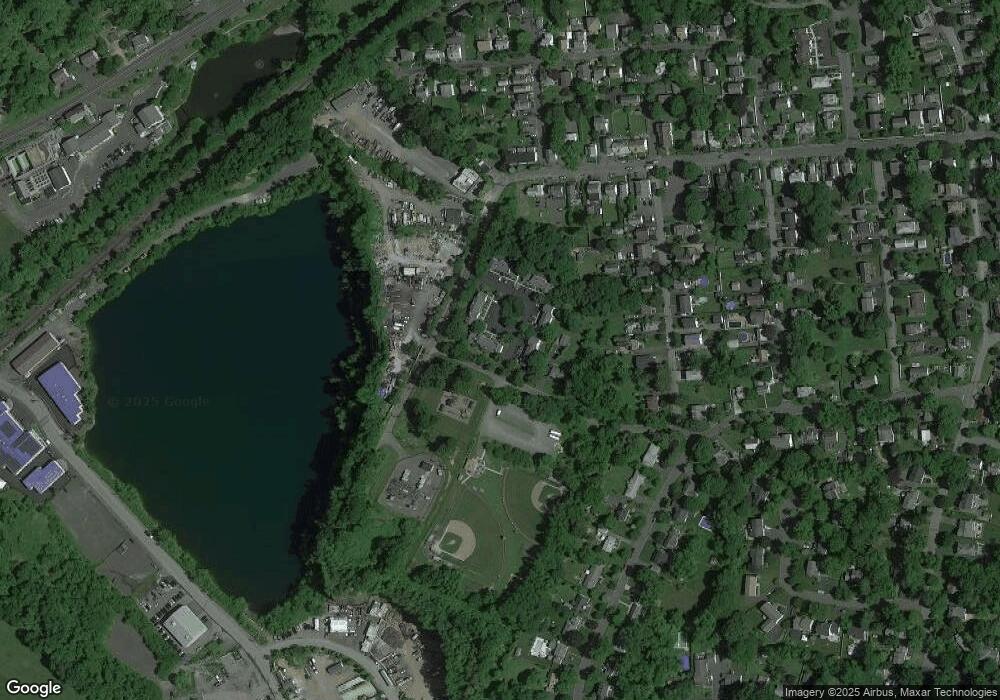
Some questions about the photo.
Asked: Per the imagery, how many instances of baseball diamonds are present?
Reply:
2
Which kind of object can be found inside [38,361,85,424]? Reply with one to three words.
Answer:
building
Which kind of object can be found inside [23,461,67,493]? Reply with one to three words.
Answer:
building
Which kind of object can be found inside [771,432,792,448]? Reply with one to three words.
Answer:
house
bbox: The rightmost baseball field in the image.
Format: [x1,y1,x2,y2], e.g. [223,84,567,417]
[505,455,565,540]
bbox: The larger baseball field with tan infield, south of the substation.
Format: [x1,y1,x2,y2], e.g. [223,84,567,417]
[434,488,505,580]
